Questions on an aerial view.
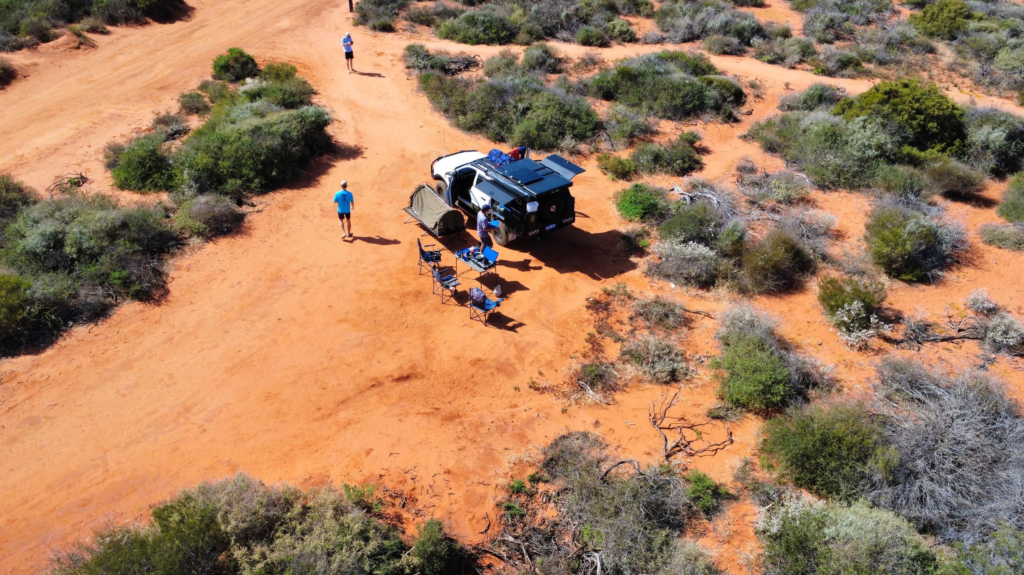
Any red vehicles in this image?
No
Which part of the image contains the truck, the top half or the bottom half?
top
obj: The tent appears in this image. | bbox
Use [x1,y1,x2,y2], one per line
[402,180,466,247]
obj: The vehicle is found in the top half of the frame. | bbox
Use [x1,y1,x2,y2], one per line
[429,127,584,249]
